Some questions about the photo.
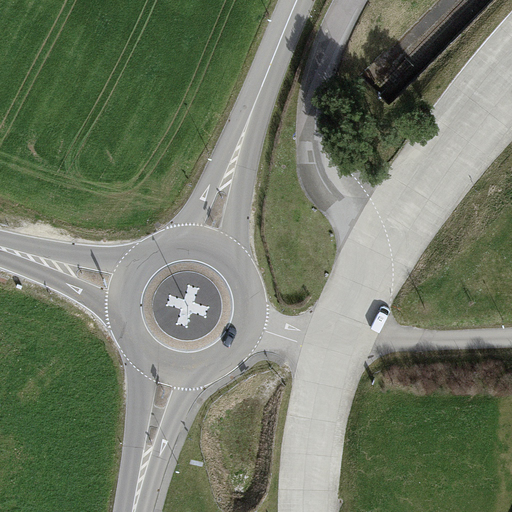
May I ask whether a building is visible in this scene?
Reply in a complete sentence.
No, there's no building here.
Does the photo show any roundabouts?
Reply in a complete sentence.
Yes, there is a roundabout in the image.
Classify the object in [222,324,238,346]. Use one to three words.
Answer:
car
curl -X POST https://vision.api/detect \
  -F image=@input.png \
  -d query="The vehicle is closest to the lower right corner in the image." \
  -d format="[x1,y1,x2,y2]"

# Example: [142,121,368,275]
[370,306,390,333]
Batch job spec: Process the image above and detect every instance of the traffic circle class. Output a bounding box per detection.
[106,224,270,390]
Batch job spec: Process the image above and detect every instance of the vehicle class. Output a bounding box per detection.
[370,306,390,333]
[222,324,238,346]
